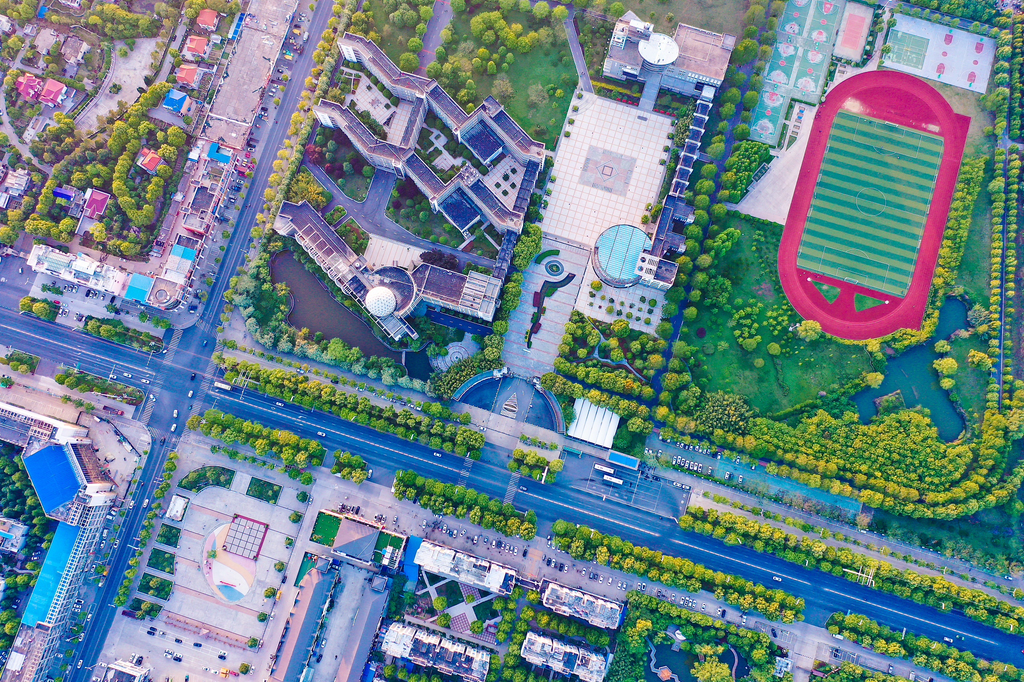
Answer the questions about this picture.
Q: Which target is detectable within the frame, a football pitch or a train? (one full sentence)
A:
I can see a football pitch in this picture.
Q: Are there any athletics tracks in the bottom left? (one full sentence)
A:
No, no athletics track is visible in the bottom left.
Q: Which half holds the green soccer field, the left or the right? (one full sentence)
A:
The green soccer field is on the right side of the image.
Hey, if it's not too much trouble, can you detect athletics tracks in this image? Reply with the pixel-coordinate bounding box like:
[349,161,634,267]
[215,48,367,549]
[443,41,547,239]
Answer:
[777,71,972,341]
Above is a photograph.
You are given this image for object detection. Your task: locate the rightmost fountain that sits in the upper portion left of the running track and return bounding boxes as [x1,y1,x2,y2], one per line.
[546,259,564,277]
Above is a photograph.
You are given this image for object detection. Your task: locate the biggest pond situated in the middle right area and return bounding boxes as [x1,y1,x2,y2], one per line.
[853,296,975,442]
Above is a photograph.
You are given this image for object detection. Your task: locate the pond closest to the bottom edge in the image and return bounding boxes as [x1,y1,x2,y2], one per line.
[644,642,745,682]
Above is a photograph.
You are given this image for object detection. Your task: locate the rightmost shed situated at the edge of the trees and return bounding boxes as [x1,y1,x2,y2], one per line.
[772,655,794,678]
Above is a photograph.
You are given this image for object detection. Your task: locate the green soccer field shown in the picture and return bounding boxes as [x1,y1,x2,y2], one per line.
[795,105,946,300]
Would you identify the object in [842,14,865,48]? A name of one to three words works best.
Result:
sports court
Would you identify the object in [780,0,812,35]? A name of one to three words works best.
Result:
basketball court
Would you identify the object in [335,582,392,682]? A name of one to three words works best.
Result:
shed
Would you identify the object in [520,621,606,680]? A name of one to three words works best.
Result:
building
